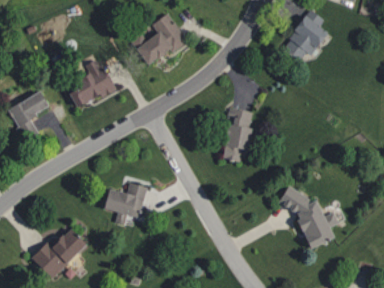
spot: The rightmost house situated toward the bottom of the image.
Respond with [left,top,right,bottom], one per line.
[280,186,335,247]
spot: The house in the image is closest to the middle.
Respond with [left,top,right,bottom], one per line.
[223,107,253,162]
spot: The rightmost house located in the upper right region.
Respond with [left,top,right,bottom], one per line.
[286,10,330,58]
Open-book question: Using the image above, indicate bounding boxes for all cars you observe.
[166,88,177,96]
[178,12,186,22]
[91,132,102,139]
[183,10,192,20]
[116,117,126,124]
[154,201,165,208]
[272,208,282,218]
[104,124,114,132]
[343,0,355,8]
[166,196,176,204]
